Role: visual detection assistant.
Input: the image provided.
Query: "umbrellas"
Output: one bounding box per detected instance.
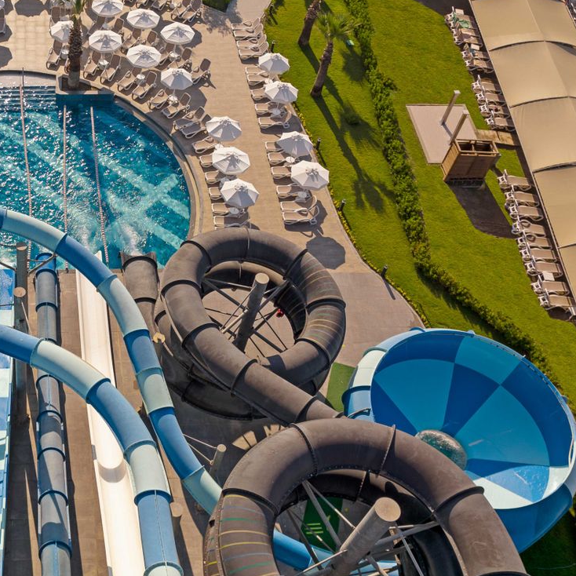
[290,164,330,198]
[92,0,124,26]
[276,131,312,165]
[212,147,251,182]
[125,11,159,41]
[88,34,122,66]
[47,23,71,52]
[160,26,194,56]
[256,52,292,85]
[220,181,260,215]
[158,67,194,100]
[263,82,300,115]
[126,47,162,80]
[206,116,243,150]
